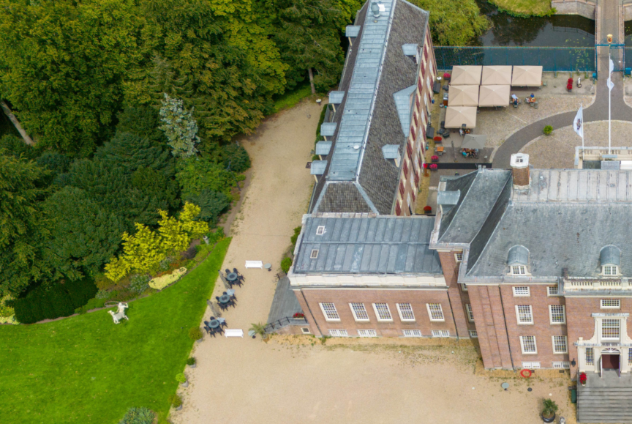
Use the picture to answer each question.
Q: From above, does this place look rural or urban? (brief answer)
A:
urban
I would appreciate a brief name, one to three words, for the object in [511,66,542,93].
umbrella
